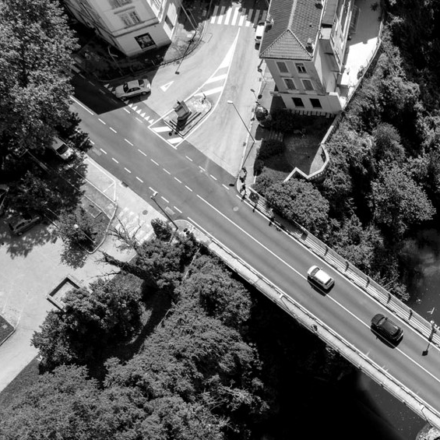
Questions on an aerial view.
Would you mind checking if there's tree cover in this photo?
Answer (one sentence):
Yes, the picture does contain tree cover.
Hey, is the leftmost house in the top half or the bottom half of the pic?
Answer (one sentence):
You can find the leftmost house in the top half.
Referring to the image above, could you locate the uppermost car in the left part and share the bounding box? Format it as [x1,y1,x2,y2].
[112,78,151,100]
